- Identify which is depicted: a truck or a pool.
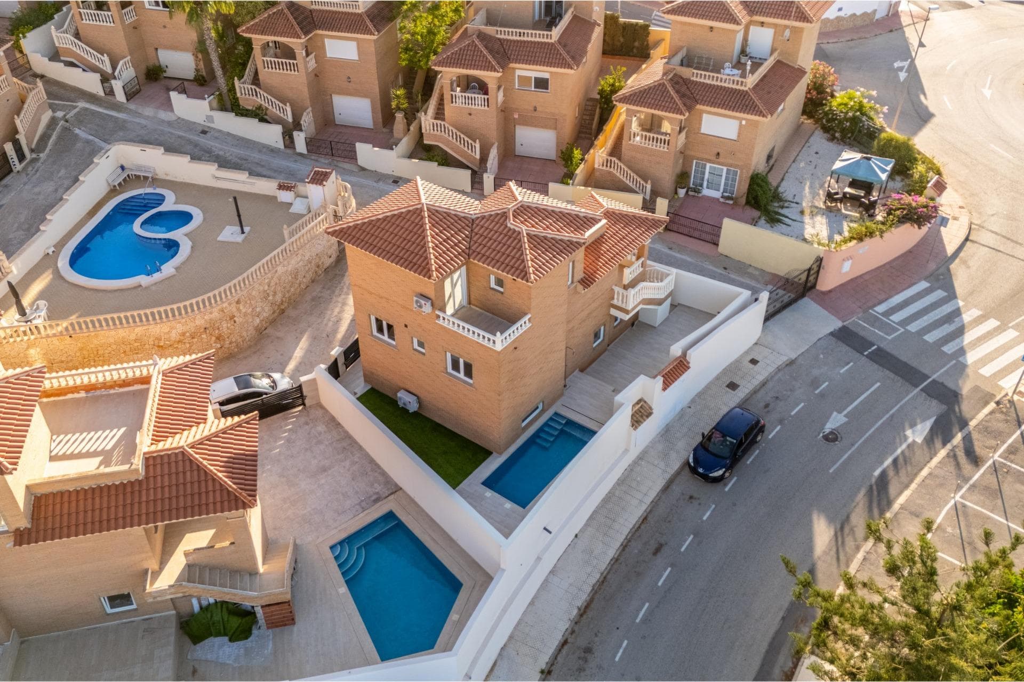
pool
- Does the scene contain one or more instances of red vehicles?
No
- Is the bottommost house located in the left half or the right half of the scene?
left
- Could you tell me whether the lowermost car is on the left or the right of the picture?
right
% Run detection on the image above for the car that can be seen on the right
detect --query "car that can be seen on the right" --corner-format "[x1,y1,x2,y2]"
[689,409,764,488]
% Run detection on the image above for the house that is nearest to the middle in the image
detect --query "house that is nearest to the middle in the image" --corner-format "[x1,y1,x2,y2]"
[322,173,678,455]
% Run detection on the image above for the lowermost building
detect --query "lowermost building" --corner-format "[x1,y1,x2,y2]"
[0,346,298,681]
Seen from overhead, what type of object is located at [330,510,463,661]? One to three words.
swimming pool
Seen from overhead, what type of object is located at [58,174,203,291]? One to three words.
swimming pool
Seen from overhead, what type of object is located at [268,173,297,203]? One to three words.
building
